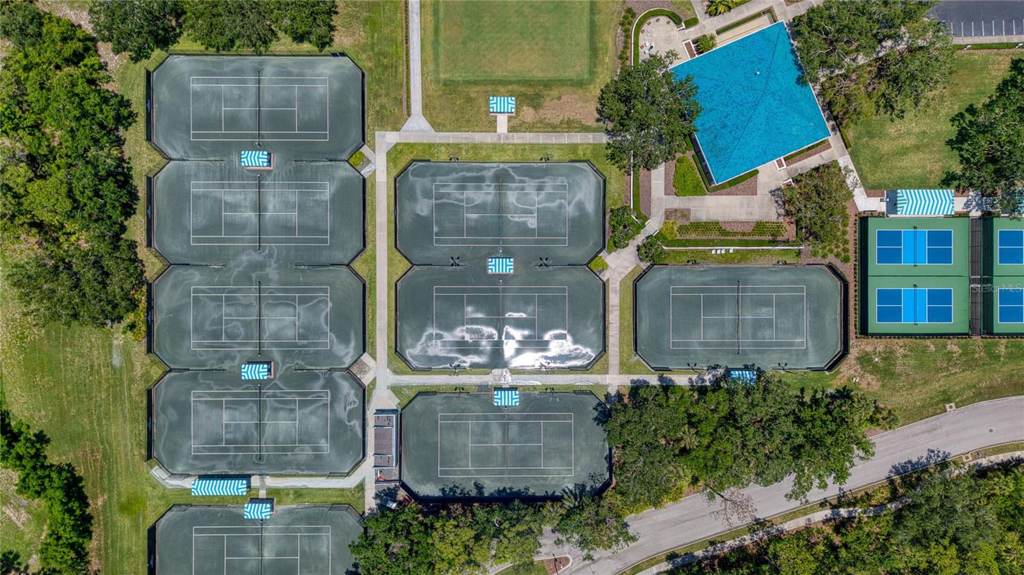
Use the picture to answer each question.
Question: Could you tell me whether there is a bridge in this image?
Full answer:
No, I can see no bridge in this picture.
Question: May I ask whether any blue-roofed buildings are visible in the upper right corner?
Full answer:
Yes, a blue-roofed building can be seen in the upper right corner.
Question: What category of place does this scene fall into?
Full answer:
The area seen from above is a sports ground.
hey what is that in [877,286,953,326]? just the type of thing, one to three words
sports court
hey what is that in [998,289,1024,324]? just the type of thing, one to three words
sports court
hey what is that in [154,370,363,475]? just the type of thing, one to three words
tennis court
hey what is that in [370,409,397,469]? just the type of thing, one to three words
shed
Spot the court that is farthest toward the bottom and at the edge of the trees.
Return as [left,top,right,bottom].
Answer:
[155,505,364,575]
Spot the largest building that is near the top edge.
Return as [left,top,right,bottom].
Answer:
[665,20,831,186]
